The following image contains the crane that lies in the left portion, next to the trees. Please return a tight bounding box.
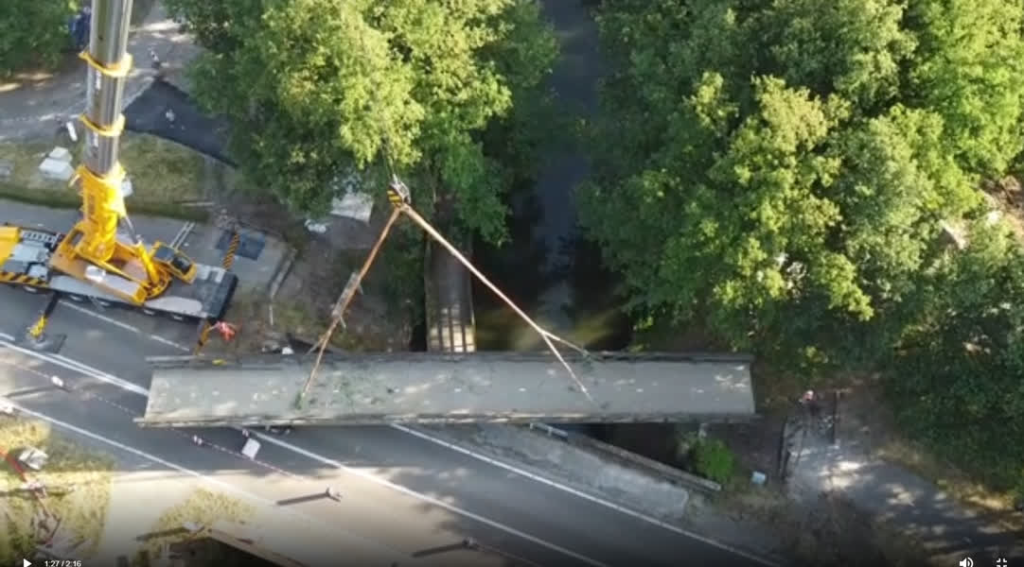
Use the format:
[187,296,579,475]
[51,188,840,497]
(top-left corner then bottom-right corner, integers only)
[0,0,264,358]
